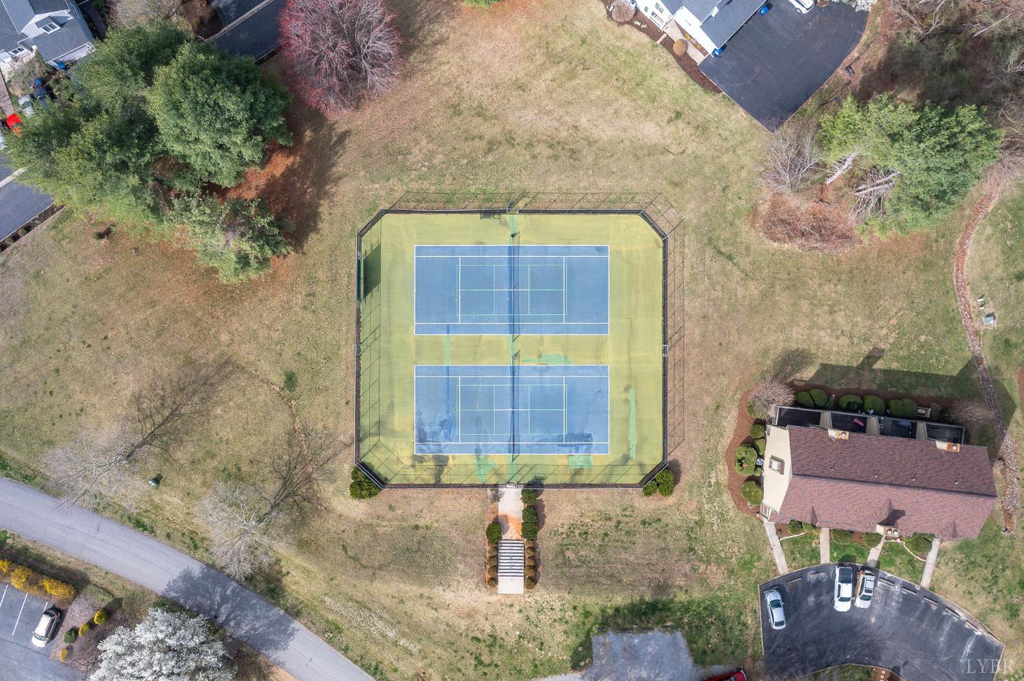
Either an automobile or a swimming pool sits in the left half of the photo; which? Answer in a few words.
automobile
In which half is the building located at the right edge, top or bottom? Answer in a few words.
bottom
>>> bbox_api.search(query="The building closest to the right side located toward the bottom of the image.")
[760,405,997,544]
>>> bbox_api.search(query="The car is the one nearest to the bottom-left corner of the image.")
[34,607,62,645]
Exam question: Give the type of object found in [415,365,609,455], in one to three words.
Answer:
tennis court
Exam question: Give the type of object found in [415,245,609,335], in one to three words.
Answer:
tennis court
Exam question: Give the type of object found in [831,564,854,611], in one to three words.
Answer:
truck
